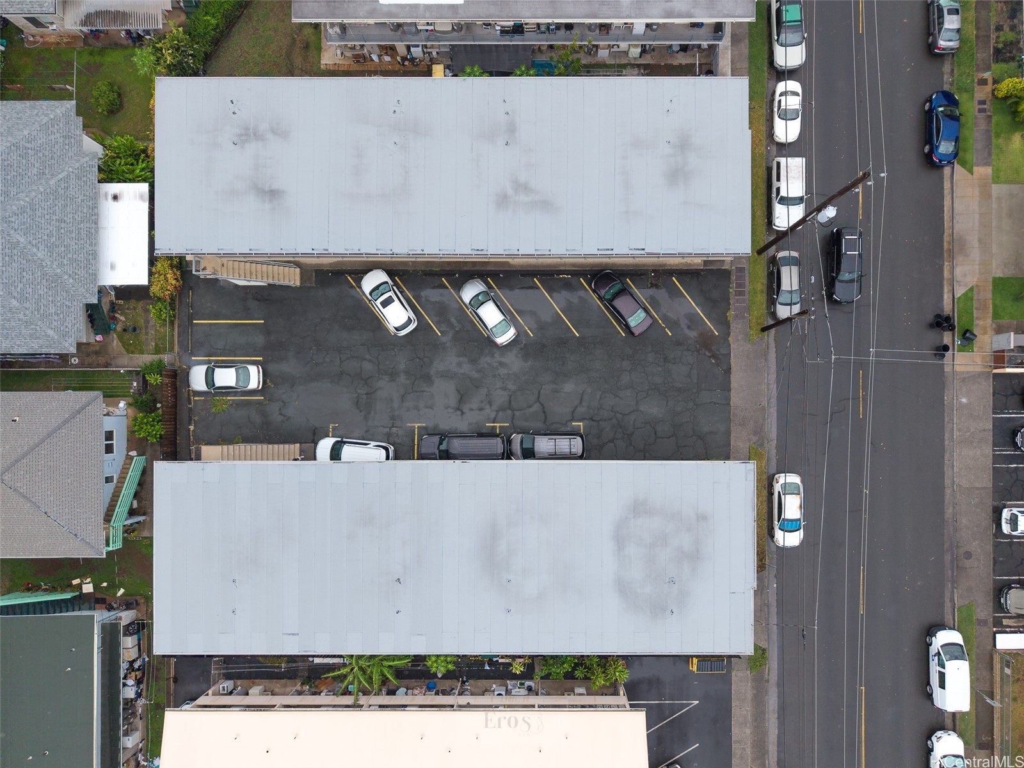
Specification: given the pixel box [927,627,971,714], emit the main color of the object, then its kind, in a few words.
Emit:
white car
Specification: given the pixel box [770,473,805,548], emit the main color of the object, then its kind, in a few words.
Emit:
white car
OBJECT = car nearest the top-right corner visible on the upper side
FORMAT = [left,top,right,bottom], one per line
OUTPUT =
[925,0,963,58]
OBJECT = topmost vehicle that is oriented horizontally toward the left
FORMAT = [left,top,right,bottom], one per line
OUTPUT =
[189,362,266,393]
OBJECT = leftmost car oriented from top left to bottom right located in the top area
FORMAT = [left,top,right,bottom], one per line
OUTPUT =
[362,270,417,337]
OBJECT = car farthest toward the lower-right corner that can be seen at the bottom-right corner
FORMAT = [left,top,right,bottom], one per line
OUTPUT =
[926,726,965,768]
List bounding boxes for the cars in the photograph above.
[658,760,686,768]
[770,0,808,73]
[461,279,518,347]
[1000,583,1024,615]
[827,226,866,302]
[769,248,804,321]
[926,726,965,768]
[508,431,586,461]
[925,0,963,58]
[927,627,971,714]
[770,473,805,548]
[419,431,506,461]
[923,91,962,168]
[362,270,417,337]
[770,79,804,147]
[770,154,807,231]
[592,270,653,337]
[189,362,266,393]
[317,433,396,461]
[1002,505,1024,536]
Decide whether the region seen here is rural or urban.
urban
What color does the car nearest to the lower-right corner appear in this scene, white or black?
white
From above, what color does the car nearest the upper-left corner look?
white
